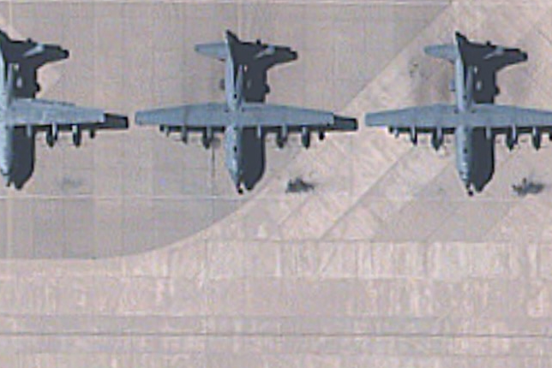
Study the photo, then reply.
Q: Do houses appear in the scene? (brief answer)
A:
No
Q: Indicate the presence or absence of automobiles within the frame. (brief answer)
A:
No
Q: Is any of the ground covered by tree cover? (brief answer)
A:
No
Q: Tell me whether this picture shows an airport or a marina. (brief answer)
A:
airport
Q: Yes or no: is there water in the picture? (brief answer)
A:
No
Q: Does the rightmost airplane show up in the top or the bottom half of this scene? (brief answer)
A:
top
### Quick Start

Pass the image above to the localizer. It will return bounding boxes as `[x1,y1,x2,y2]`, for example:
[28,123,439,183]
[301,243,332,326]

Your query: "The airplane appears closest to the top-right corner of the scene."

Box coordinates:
[365,30,552,194]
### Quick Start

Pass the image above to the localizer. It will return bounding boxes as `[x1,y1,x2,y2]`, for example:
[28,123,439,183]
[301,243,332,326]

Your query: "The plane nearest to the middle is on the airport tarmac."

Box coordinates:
[134,29,333,193]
